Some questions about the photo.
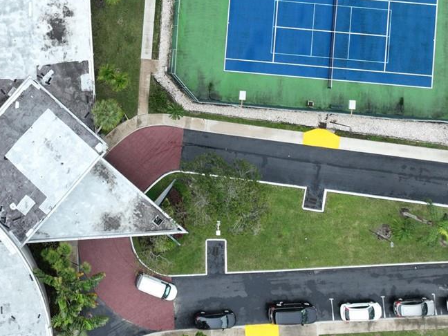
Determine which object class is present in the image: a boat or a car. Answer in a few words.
car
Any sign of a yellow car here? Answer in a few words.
No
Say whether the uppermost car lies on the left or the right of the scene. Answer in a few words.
left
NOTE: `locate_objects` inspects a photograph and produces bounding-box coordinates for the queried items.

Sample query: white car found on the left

[134,272,176,300]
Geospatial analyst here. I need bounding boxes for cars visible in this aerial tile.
[267,301,316,326]
[193,308,235,330]
[338,300,381,322]
[392,296,434,319]
[134,272,176,300]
